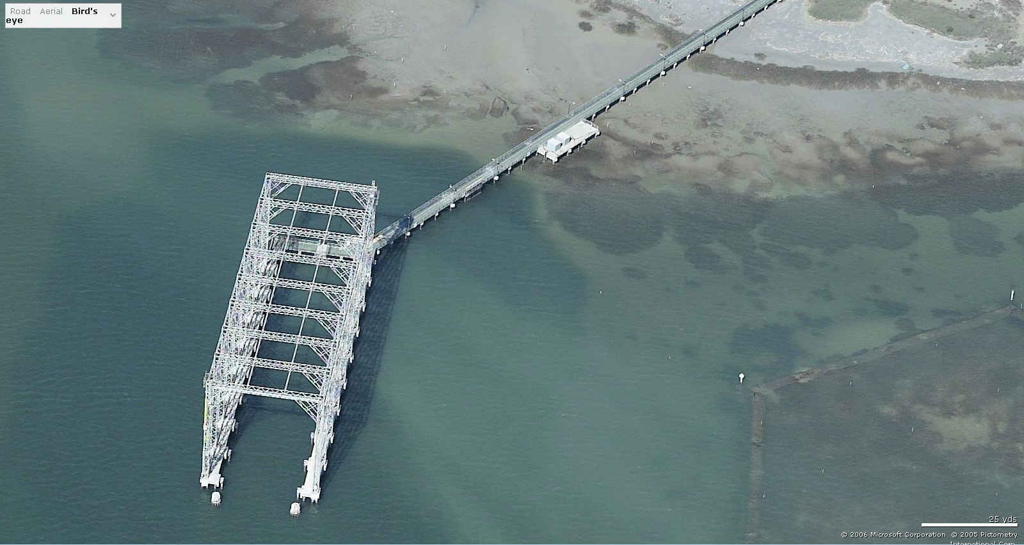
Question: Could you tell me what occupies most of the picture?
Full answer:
Most of the picture is covered by water.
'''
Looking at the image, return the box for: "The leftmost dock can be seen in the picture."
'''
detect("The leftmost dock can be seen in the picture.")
[203,233,294,492]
